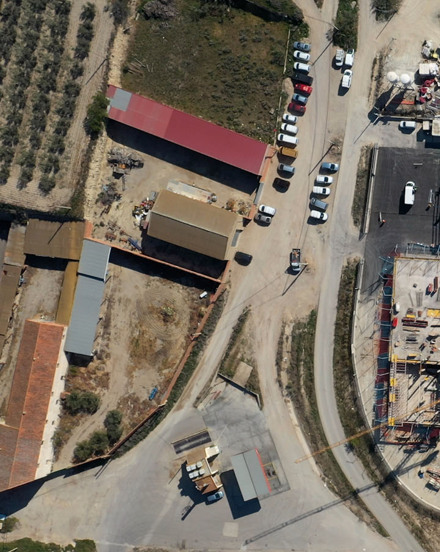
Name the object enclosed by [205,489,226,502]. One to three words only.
vehicle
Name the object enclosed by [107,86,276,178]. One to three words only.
shed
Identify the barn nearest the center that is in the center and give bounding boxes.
[148,190,247,260]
